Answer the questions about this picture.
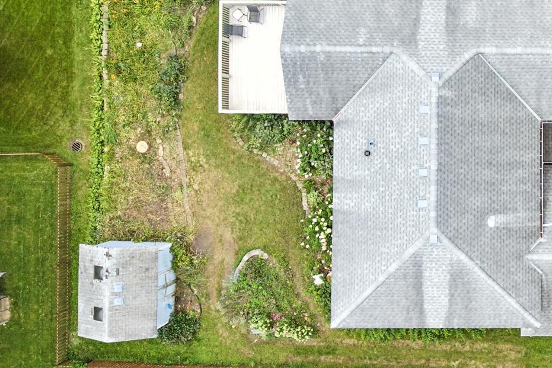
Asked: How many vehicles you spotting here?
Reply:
zero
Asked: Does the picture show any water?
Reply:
No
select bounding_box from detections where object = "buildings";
[79,241,175,347]
[280,0,552,336]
